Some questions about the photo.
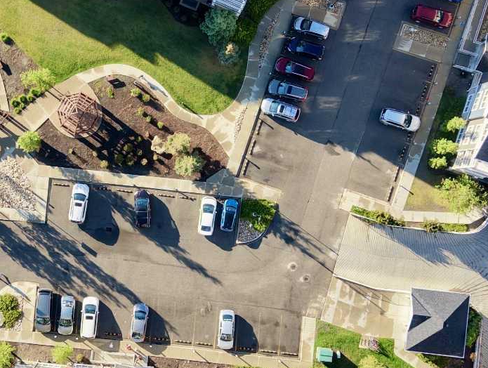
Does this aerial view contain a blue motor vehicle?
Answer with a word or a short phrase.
Yes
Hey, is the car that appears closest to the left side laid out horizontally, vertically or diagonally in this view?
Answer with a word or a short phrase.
vertically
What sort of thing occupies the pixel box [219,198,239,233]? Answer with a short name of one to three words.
car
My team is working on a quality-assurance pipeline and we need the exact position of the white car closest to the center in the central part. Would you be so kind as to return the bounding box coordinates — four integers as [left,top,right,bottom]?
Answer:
[197,195,218,236]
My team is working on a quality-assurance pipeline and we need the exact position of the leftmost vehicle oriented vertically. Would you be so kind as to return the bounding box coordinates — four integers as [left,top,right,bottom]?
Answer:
[33,288,54,333]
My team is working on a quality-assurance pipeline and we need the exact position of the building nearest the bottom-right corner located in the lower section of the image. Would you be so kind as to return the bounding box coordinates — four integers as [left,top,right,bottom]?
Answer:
[405,288,471,359]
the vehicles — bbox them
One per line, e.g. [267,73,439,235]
[130,303,149,344]
[219,198,239,233]
[378,108,423,134]
[33,288,54,333]
[80,296,100,340]
[69,183,90,225]
[274,57,317,82]
[267,78,311,103]
[133,189,152,229]
[409,4,454,28]
[216,308,235,350]
[56,295,76,335]
[259,98,302,123]
[291,17,332,41]
[197,195,218,236]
